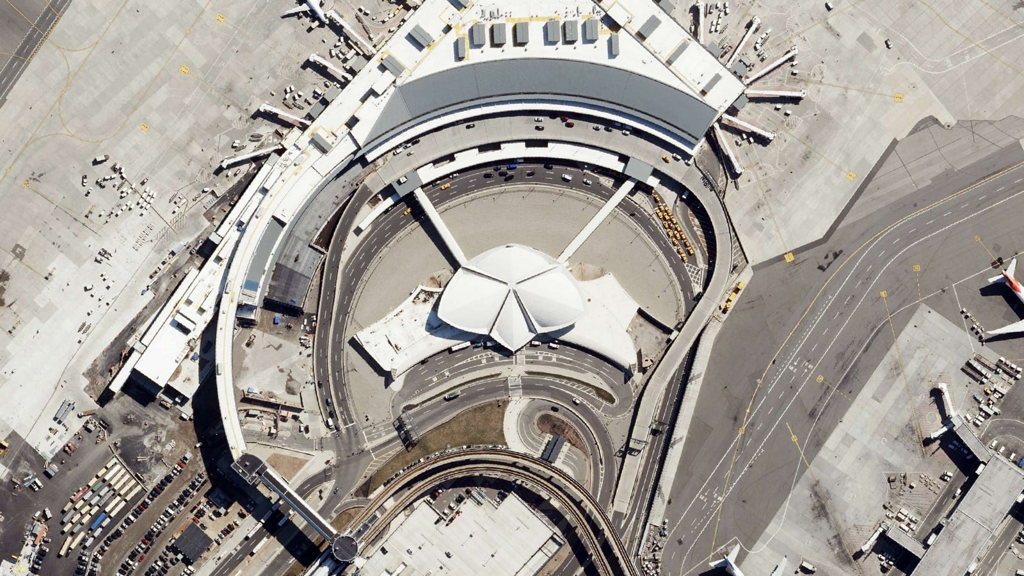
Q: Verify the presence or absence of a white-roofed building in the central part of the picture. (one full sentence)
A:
Yes, you'll find a white-roofed building in the central part of the picture.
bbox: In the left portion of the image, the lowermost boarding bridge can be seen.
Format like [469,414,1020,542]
[220,144,285,168]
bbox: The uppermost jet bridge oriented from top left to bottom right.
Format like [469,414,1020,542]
[325,9,377,55]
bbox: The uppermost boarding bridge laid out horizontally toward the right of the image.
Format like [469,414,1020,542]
[742,87,809,99]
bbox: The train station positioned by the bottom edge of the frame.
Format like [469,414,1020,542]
[306,541,367,576]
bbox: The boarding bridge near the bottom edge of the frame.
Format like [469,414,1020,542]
[860,520,891,553]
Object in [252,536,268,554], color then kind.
white vehicle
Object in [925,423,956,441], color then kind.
white jet bridge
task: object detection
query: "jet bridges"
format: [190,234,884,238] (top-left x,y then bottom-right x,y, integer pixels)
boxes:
[742,87,809,99]
[220,144,285,168]
[925,423,956,441]
[743,46,800,85]
[259,103,311,126]
[307,53,353,81]
[860,520,891,553]
[697,0,706,46]
[937,381,958,413]
[712,119,744,175]
[720,112,778,140]
[725,15,761,69]
[325,9,377,55]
